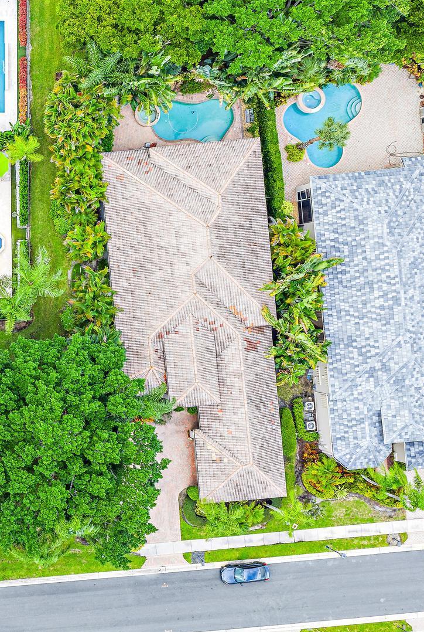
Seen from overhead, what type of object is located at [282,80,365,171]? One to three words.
swimming pool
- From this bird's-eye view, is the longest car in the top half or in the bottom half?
bottom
